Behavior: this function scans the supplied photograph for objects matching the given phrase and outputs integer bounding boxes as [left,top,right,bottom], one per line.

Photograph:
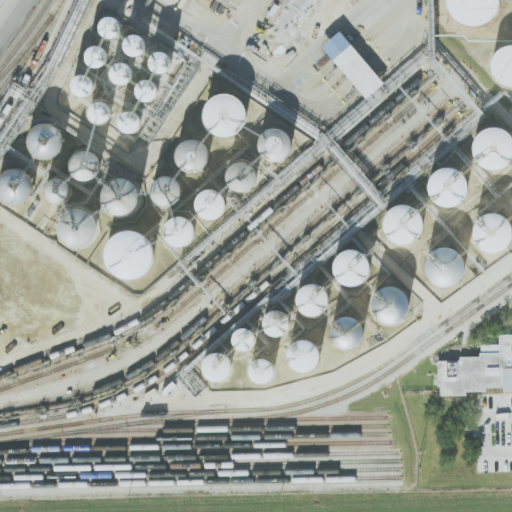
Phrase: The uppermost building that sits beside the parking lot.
[437,334,512,396]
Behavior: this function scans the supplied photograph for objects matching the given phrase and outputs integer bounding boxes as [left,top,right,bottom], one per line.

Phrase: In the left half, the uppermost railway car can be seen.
[30,36,48,70]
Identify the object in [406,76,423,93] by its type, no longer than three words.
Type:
rail car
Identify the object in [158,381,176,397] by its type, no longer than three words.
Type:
vehicle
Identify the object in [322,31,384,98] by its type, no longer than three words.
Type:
shed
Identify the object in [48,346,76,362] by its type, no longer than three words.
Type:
rail car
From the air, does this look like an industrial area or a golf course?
industrial area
